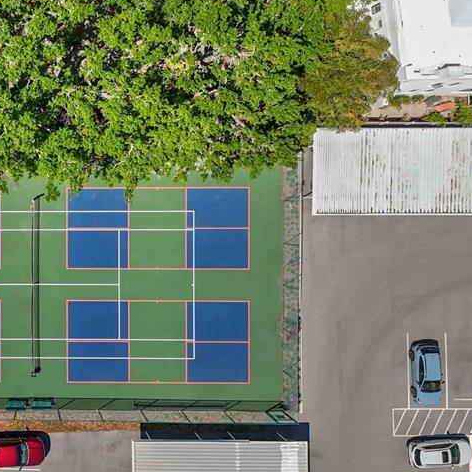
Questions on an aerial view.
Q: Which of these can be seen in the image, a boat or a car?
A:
car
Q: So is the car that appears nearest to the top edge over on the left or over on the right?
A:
right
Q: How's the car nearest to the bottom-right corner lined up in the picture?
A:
horizontally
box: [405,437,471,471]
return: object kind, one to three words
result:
car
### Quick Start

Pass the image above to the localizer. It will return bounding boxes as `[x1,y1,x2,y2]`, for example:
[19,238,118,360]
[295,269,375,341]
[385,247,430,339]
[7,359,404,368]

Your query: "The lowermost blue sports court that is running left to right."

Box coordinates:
[67,300,250,384]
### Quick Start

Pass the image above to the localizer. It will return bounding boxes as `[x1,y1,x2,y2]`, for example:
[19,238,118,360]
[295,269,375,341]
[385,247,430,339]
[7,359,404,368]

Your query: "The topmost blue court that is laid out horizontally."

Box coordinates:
[67,187,250,270]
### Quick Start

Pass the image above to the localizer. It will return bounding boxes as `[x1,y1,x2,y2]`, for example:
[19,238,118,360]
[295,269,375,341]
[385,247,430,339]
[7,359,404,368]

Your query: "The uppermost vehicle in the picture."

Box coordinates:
[408,344,444,406]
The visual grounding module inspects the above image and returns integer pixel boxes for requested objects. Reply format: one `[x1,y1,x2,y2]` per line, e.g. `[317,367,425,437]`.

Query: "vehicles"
[408,344,444,406]
[0,436,43,472]
[405,437,471,471]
